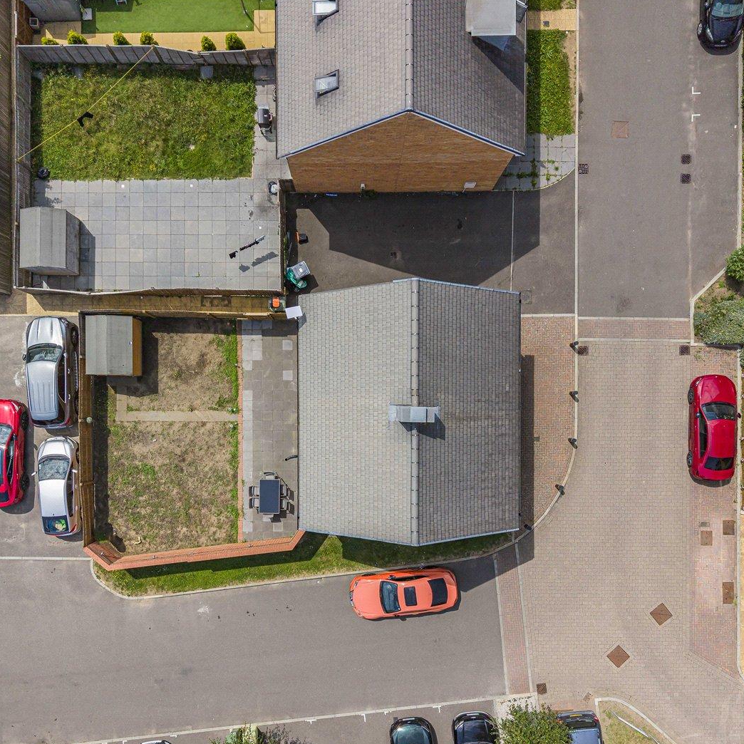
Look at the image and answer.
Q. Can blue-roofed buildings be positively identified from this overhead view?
No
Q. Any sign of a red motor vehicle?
Yes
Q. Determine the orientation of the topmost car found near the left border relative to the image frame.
from top to bottom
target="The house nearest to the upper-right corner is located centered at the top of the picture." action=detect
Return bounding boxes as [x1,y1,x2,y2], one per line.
[274,0,528,193]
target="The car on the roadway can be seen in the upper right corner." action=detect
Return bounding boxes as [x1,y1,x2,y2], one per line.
[701,0,744,50]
